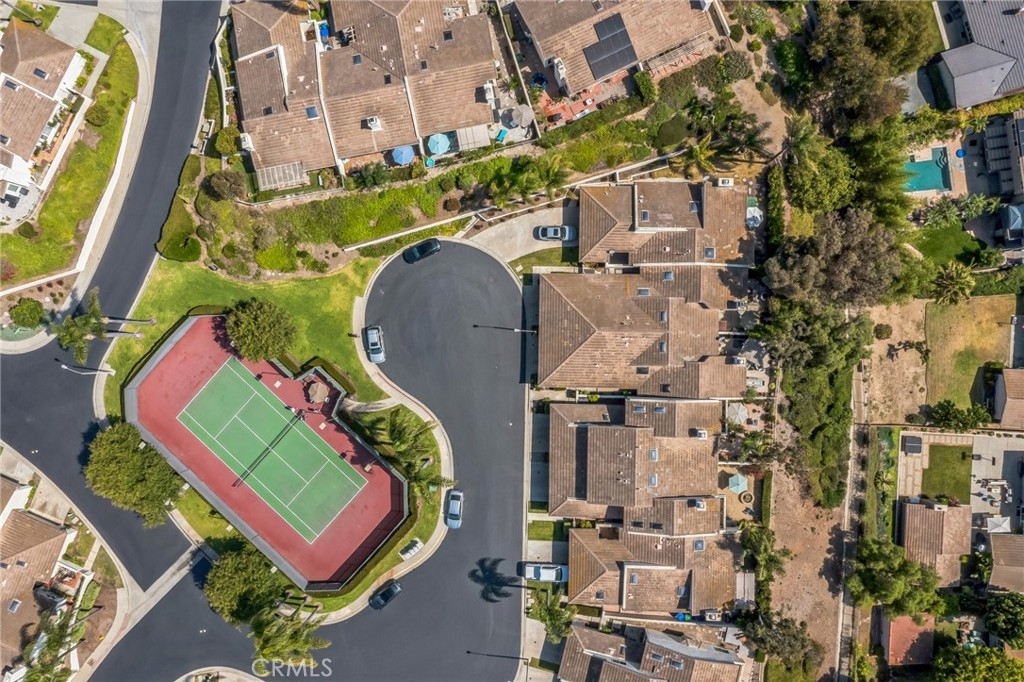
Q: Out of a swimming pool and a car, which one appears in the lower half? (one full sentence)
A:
There is a car in the lower half.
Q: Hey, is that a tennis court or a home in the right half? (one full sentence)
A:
The feature located in the right half is a home.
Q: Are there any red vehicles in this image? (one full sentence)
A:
No, I can't see a single red vehicle in this photo.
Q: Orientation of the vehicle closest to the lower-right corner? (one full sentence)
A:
The vehicle closest to the lower-right corner has been laid out horizontally relative to the frame.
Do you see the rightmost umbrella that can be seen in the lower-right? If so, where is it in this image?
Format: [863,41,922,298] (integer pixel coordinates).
[982,513,1006,534]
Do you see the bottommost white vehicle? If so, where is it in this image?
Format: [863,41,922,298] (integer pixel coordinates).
[526,563,569,583]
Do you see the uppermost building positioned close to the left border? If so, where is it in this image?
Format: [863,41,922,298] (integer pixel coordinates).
[0,16,88,103]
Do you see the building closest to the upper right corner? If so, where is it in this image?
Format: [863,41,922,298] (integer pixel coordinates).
[928,0,1024,112]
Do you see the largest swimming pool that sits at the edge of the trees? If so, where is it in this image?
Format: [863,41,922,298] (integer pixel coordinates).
[903,146,952,193]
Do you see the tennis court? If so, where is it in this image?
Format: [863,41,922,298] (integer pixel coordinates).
[137,316,407,583]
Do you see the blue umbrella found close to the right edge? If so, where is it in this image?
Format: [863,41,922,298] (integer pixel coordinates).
[1000,210,1023,228]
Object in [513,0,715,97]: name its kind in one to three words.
house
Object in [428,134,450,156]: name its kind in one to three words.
umbrella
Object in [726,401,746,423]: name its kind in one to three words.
umbrella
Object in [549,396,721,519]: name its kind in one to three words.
house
